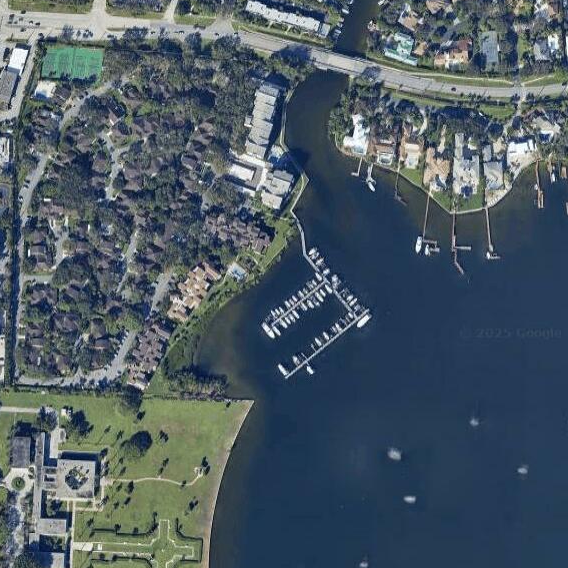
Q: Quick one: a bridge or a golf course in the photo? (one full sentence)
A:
The one in the frame is a bridge.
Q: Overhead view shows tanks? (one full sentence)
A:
No, I can see no tank in this picture.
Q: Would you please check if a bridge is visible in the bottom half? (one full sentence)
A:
No, no bridge appears in the bottom half.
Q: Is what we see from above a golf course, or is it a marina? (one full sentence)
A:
What you see here is a marina.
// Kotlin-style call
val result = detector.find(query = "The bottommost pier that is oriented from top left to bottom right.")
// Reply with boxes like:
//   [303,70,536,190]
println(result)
[295,217,360,318]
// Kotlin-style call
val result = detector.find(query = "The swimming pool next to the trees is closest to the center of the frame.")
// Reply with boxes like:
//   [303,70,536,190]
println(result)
[225,260,251,284]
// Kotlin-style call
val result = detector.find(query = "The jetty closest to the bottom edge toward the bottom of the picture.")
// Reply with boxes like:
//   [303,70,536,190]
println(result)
[284,309,370,380]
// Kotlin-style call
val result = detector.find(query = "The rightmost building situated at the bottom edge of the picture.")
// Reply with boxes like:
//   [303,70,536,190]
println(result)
[29,433,96,568]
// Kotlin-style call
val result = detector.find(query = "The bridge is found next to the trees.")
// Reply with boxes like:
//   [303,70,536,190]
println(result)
[306,43,372,81]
